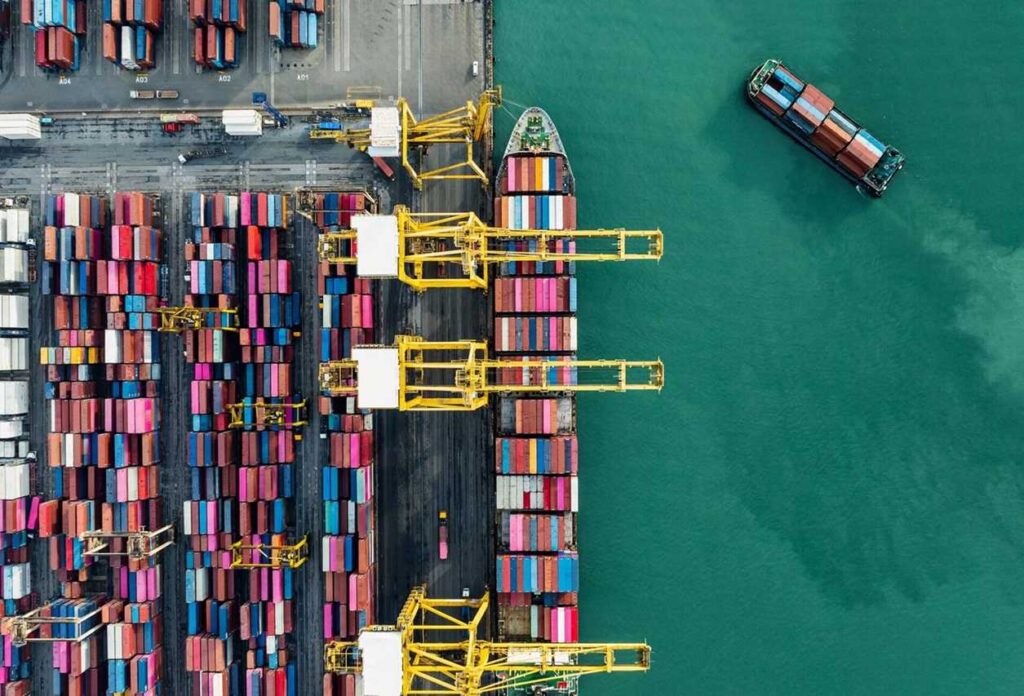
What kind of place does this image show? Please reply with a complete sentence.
What you see here is a port.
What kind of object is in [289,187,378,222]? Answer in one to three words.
container crane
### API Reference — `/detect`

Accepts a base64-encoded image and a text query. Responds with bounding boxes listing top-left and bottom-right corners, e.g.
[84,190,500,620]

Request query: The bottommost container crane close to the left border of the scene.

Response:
[0,599,108,643]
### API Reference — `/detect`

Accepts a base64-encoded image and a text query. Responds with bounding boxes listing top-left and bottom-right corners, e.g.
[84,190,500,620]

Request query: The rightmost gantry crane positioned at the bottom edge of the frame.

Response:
[317,582,653,696]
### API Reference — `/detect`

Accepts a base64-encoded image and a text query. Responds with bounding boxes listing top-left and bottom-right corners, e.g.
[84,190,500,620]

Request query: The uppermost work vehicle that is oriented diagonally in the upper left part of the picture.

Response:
[253,86,287,127]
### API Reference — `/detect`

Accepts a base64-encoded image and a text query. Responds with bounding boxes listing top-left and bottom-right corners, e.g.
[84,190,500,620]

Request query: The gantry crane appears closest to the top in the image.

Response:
[310,81,503,193]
